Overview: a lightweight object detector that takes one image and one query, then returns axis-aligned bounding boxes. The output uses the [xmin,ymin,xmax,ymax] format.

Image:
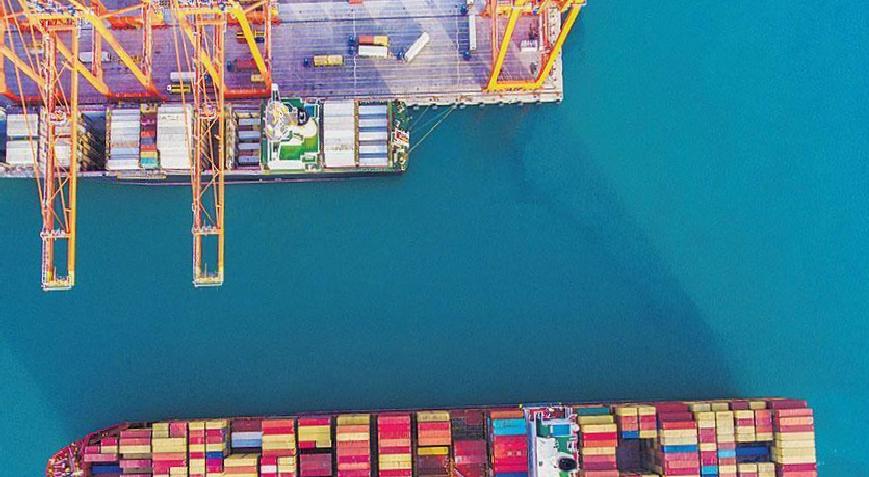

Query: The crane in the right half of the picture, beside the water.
[482,0,582,89]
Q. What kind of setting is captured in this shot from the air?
port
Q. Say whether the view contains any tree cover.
No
